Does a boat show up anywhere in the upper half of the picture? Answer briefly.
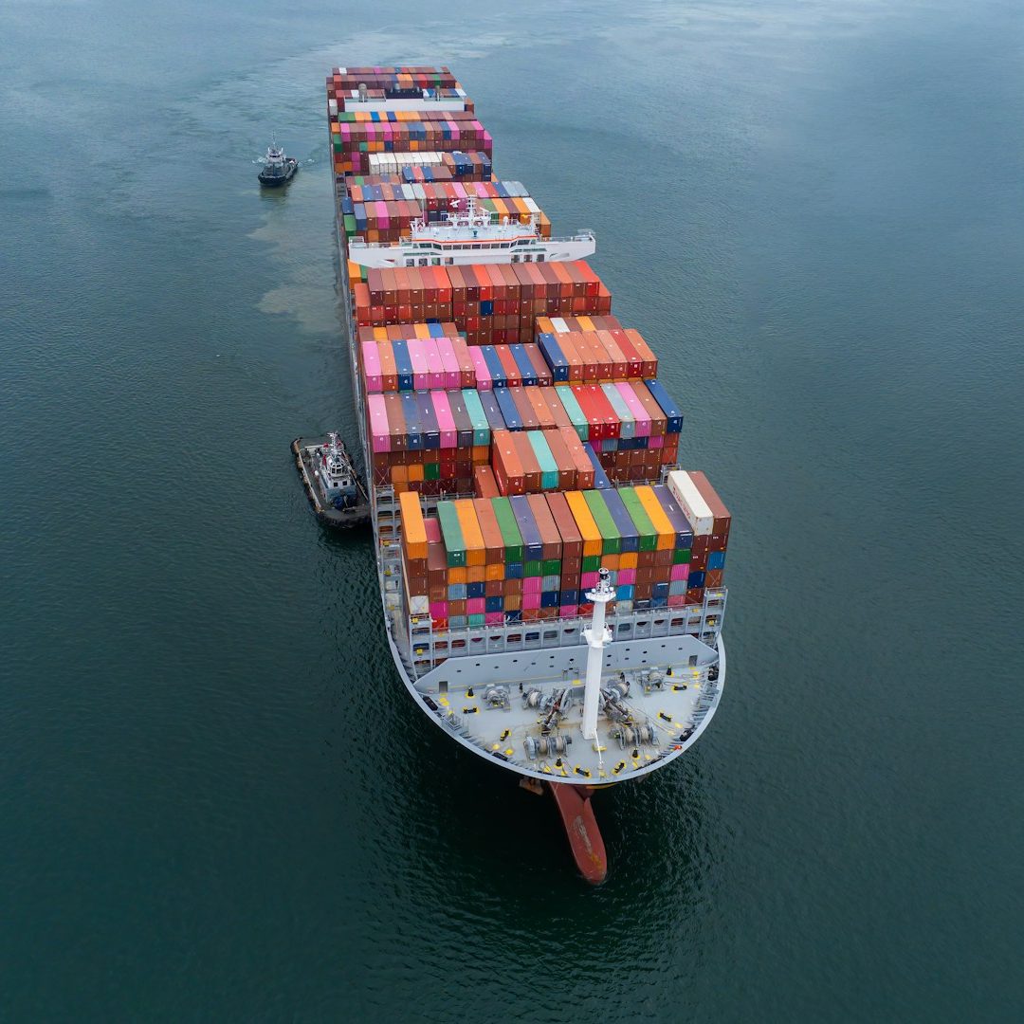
Yes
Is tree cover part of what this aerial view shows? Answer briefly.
No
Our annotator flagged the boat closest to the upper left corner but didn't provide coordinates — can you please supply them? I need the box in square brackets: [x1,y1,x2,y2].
[260,125,305,190]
